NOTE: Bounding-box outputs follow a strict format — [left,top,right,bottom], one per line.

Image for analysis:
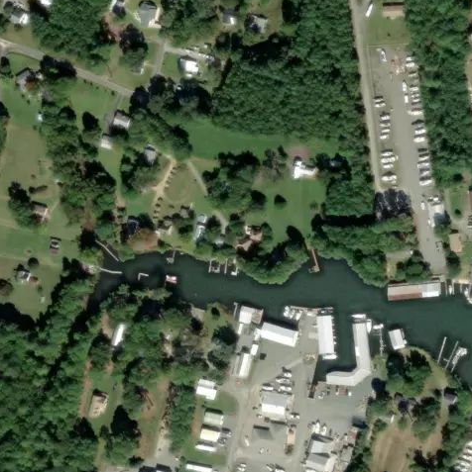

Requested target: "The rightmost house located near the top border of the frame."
[381,2,406,16]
